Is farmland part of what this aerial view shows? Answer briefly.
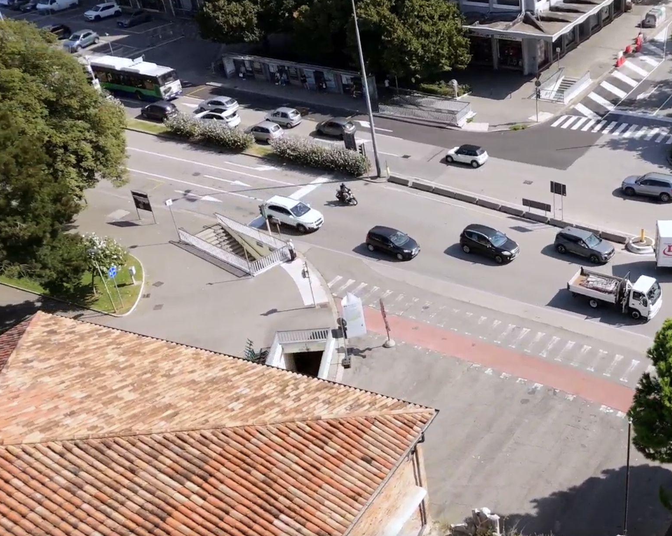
No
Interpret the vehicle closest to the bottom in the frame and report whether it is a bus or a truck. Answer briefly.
truck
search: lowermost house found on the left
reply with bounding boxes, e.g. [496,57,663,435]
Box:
[0,307,445,536]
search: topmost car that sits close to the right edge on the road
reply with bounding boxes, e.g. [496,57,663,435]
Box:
[619,168,672,202]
